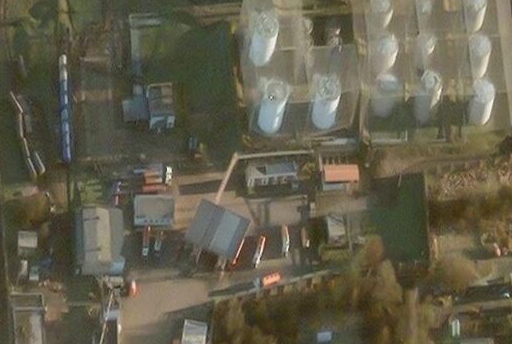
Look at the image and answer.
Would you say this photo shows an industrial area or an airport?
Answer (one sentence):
It's an industrial area.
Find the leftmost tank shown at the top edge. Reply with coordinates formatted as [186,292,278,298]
[247,9,281,70]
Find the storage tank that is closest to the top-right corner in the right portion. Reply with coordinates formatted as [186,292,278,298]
[458,0,490,34]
